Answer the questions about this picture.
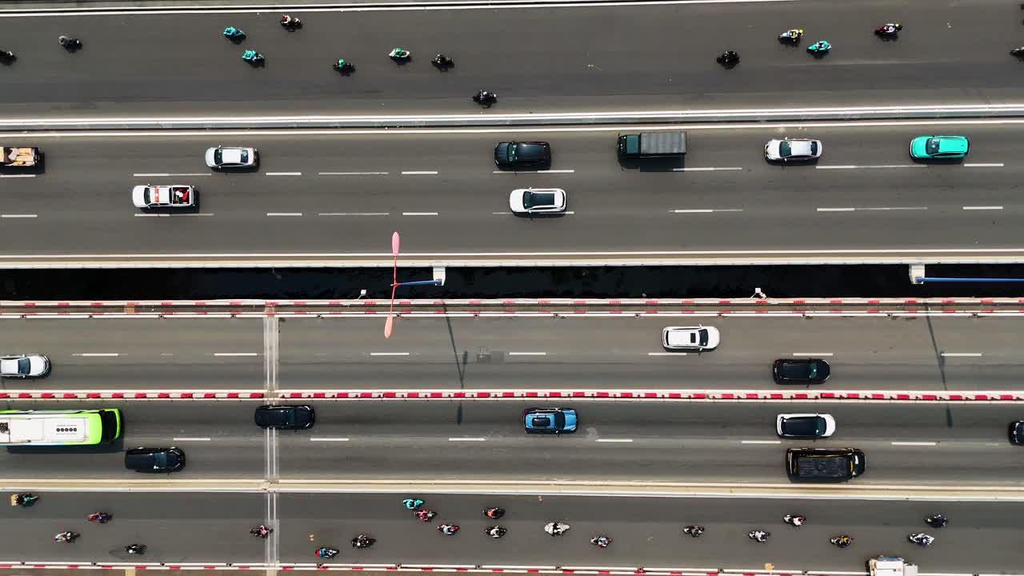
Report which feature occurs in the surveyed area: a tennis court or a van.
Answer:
van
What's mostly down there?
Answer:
paved ground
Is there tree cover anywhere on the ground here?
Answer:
No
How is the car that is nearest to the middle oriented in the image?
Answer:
from left to right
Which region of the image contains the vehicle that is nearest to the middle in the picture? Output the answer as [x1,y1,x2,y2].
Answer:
[510,186,566,214]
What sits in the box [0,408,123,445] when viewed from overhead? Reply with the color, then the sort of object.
white bus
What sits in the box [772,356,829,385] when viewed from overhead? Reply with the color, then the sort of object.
black car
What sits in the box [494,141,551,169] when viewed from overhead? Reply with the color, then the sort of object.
black car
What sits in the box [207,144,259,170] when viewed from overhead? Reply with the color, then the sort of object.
white car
